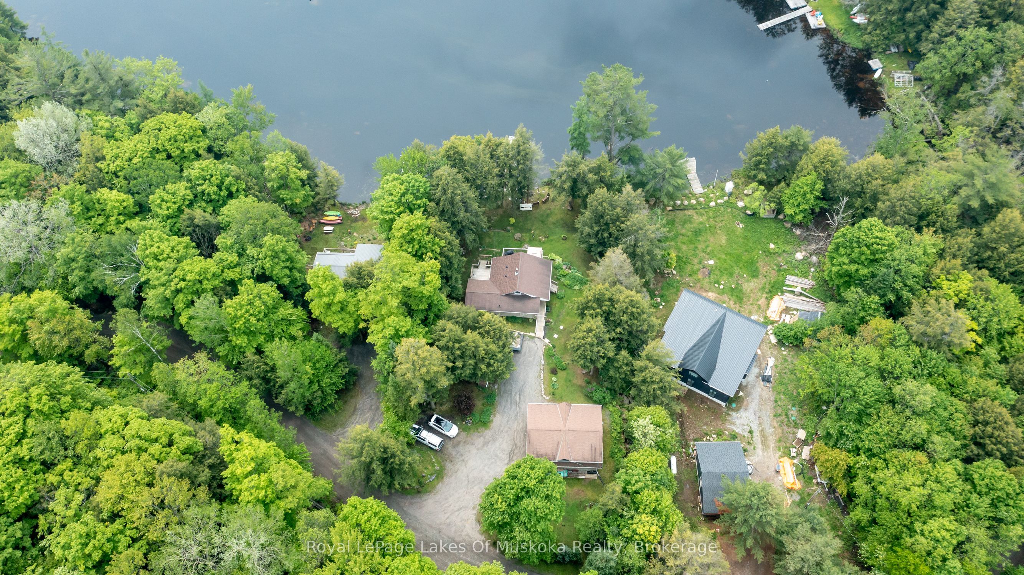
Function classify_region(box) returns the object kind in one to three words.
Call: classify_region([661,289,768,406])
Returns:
house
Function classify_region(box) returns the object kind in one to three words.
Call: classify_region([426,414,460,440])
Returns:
car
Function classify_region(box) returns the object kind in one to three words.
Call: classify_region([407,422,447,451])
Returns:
truck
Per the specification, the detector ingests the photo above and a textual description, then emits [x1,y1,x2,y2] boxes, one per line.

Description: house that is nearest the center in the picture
[467,248,558,324]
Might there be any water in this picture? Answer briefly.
Yes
